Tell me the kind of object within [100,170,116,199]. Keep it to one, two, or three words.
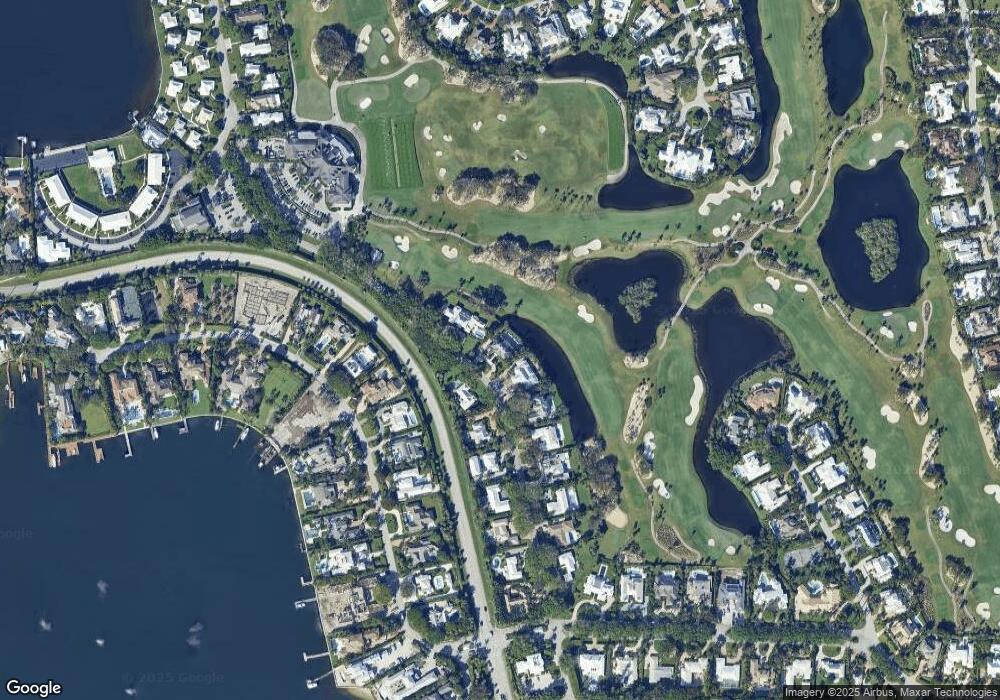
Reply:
swimming pool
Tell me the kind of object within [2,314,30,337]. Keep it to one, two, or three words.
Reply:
house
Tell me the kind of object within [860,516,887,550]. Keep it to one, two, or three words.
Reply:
house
